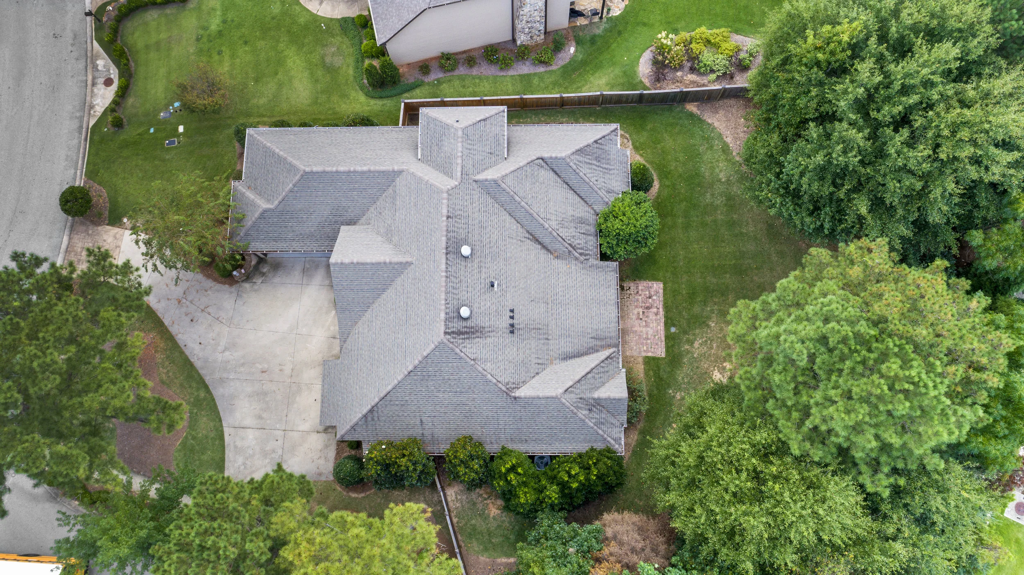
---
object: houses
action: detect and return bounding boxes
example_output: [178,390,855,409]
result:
[224,105,633,457]
[365,0,573,65]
